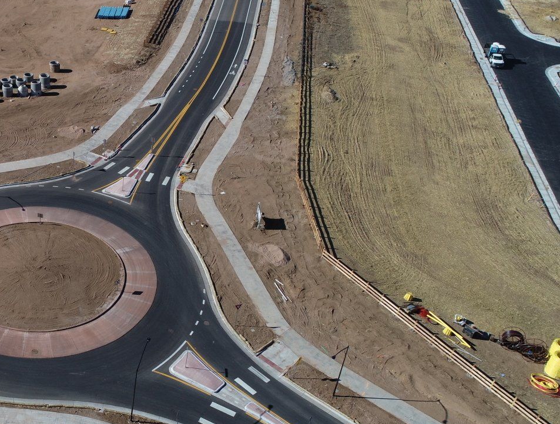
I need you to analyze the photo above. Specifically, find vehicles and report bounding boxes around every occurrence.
[488,47,507,68]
